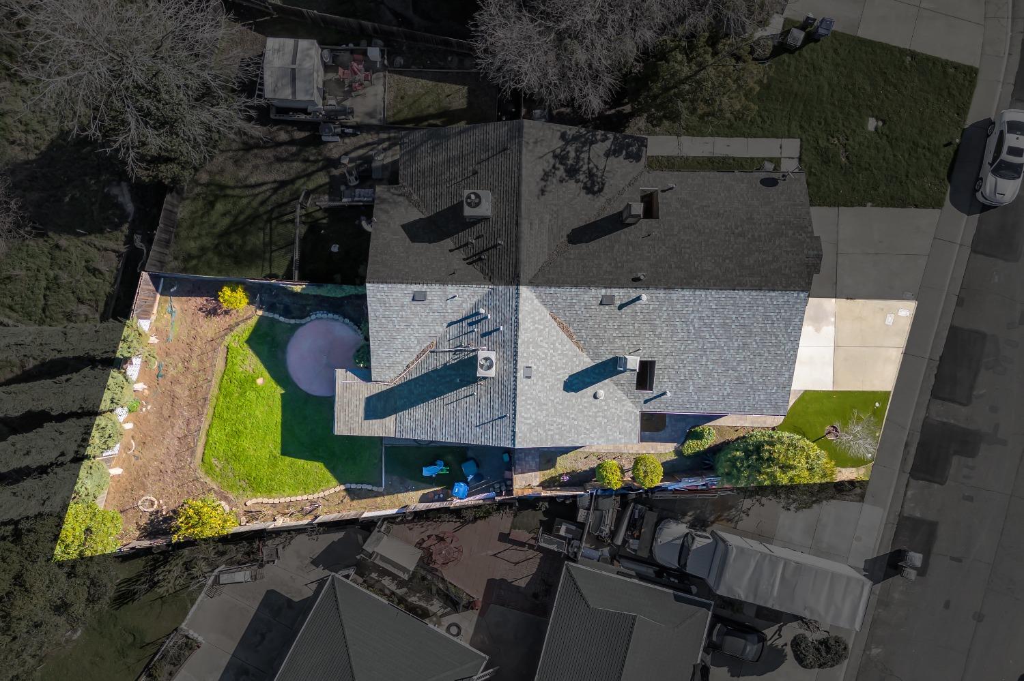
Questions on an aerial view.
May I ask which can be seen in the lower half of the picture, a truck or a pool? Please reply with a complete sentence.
Visible in the lower half of the picture is a truck.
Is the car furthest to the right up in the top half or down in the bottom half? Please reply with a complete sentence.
The car furthest to the right sits in the top half of the picture.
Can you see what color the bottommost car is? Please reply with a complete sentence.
The bottommost car is black.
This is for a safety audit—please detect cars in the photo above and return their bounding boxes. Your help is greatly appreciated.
[976,102,1024,207]
[703,620,779,673]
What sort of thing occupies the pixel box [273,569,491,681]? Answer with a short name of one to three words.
house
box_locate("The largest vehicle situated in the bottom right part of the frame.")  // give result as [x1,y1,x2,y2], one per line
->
[645,514,872,631]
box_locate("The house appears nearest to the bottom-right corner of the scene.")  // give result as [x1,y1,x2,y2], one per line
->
[534,557,716,681]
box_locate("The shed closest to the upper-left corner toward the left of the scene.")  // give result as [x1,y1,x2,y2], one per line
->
[264,34,330,114]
